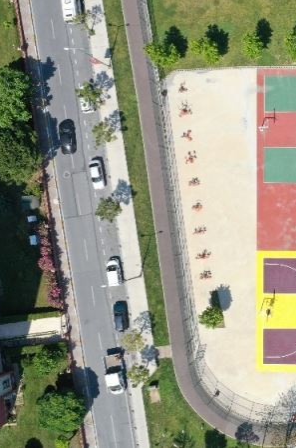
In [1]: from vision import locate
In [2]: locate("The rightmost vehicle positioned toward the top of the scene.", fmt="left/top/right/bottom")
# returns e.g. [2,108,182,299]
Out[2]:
[84,156,105,191]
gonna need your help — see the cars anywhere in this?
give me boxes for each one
[69,80,90,114]
[84,156,105,191]
[109,300,129,335]
[55,116,76,155]
[102,256,122,289]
